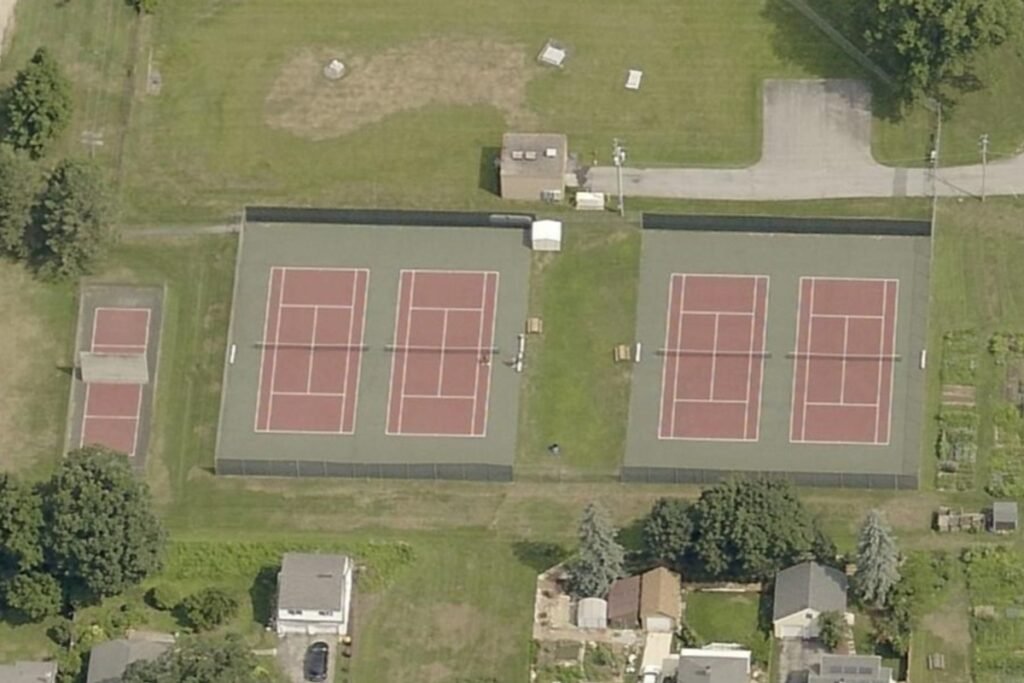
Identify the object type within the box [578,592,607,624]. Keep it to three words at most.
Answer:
shed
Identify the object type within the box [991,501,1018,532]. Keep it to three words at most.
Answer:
shed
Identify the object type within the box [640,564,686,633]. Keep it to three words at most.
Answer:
building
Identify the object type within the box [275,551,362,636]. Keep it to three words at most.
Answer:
house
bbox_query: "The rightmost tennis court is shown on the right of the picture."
[790,277,899,444]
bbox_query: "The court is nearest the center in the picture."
[386,270,499,437]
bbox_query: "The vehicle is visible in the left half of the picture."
[305,644,327,679]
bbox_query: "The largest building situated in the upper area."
[498,134,567,207]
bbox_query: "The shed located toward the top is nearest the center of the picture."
[532,218,563,251]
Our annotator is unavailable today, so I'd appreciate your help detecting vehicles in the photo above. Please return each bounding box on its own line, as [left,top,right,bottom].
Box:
[642,667,663,683]
[305,644,327,679]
